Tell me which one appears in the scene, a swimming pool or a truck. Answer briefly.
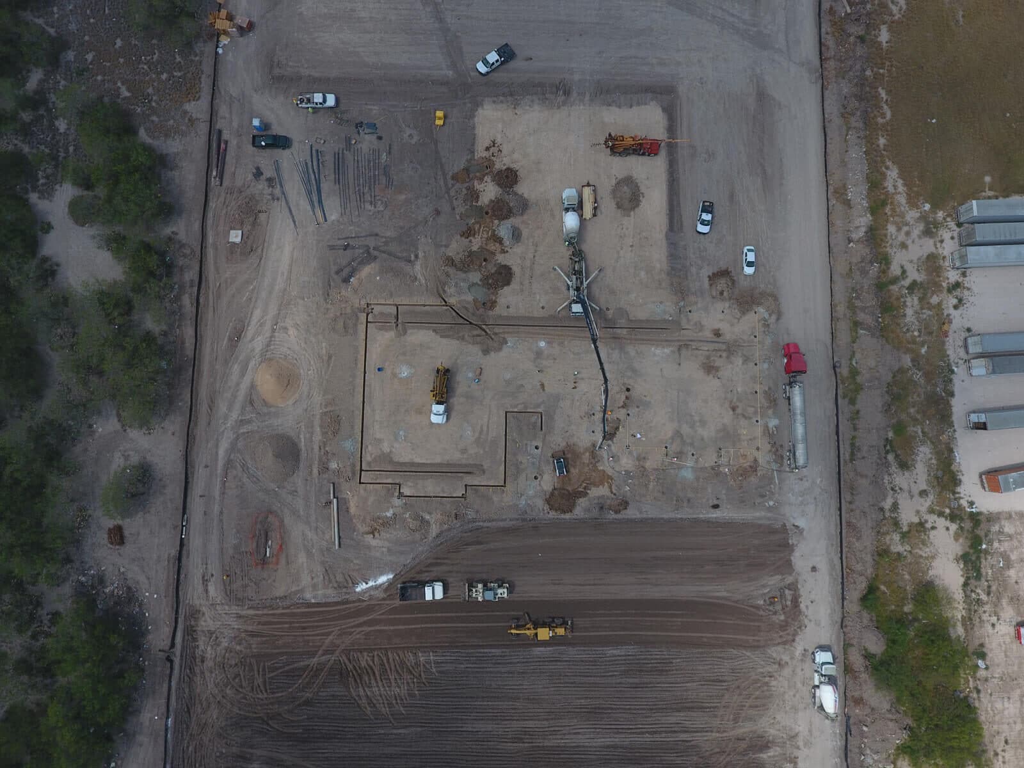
truck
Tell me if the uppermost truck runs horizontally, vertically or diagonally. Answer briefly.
diagonally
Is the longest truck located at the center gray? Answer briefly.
Yes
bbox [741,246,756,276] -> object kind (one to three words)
car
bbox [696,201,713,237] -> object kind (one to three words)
vehicle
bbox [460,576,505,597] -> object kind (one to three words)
work vehicle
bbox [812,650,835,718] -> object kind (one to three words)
truck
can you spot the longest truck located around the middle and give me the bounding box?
[552,248,609,449]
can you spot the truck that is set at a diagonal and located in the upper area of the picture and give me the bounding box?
[476,39,515,72]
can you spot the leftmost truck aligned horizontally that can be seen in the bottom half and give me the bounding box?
[399,578,446,599]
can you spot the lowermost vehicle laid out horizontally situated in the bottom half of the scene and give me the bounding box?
[508,614,574,639]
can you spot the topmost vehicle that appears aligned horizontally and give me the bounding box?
[296,91,336,108]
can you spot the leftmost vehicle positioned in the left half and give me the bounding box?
[252,134,293,150]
